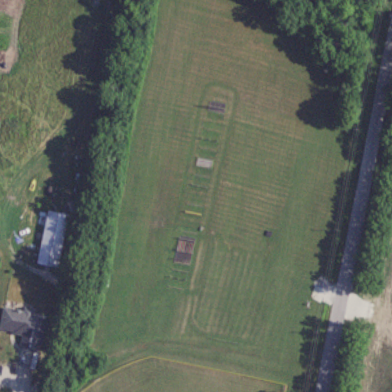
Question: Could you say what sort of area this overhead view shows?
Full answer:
This looks like a sports ground.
